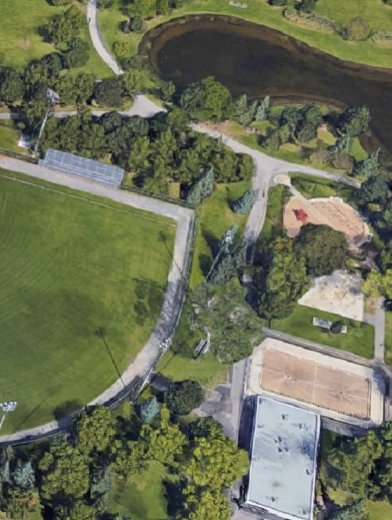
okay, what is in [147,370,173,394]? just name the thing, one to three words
shed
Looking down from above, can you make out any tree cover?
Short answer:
Yes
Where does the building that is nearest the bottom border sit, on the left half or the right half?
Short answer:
right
